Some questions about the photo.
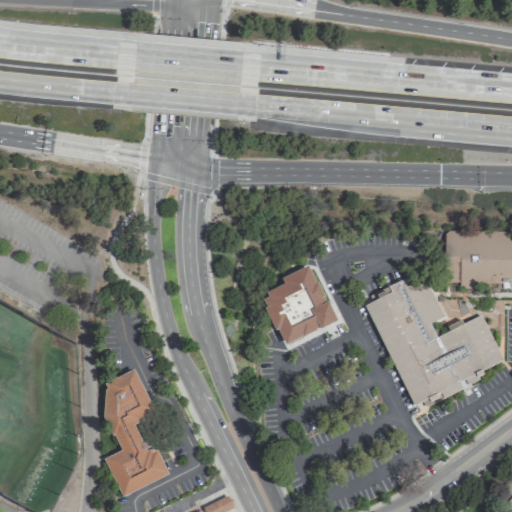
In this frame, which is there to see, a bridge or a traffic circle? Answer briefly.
bridge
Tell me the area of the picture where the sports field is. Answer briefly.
bottom left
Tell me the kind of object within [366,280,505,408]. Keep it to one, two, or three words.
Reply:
building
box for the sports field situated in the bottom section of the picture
[0,302,80,512]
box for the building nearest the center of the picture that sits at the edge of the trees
[266,266,339,344]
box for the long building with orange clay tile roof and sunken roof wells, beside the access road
[105,370,169,496]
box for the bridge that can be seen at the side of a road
[113,31,260,120]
